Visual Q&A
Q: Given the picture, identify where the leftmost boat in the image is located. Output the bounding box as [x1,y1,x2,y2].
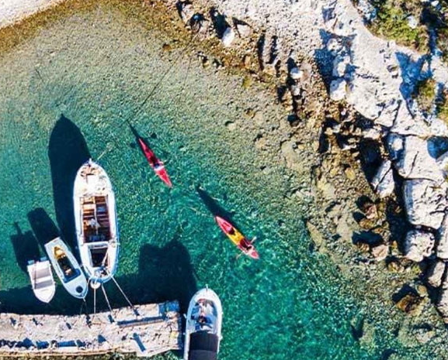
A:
[25,256,58,303]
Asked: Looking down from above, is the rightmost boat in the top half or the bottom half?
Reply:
bottom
